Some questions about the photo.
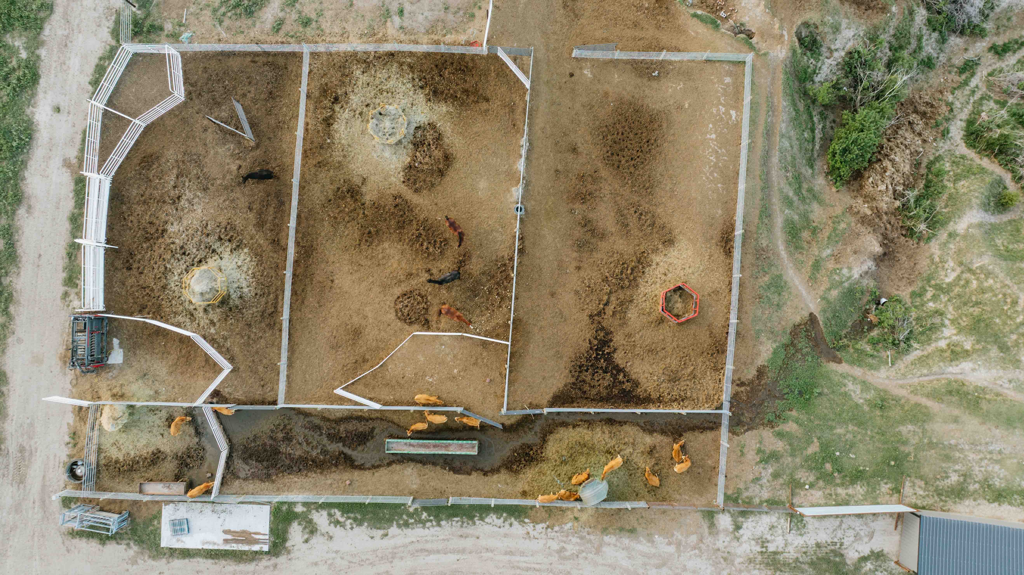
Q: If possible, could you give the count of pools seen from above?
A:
0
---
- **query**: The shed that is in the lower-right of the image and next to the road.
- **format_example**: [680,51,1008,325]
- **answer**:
[898,510,1024,575]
